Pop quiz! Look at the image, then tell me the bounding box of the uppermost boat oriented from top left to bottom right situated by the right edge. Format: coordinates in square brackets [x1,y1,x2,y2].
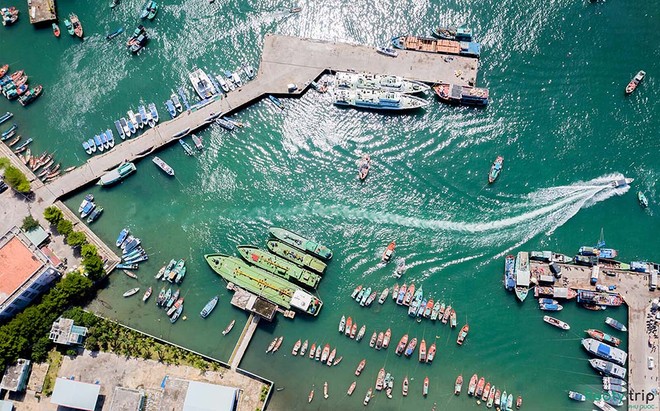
[636,191,649,207]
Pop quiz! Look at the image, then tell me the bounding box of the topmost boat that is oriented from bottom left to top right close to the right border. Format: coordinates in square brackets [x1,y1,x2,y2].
[626,70,648,94]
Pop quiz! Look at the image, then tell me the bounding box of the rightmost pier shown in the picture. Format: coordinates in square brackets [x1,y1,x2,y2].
[529,260,660,411]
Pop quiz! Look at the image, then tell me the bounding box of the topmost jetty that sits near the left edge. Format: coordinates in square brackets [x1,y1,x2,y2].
[30,0,57,25]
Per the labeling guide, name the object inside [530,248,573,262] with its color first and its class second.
white boat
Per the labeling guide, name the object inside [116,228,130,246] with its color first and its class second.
blue boat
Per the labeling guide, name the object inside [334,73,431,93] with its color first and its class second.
white ship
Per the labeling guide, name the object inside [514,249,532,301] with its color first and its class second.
white boat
